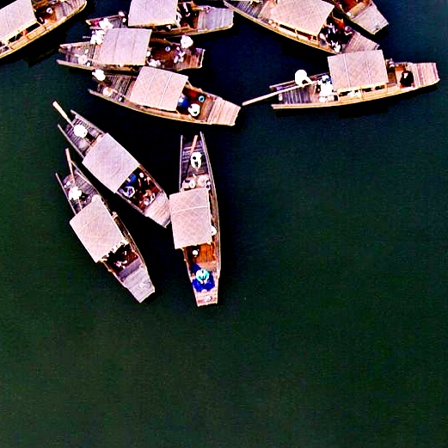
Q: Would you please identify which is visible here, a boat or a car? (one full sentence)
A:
I can see a boat in this picture.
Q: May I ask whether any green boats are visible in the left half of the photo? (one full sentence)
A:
No, looking in the left half of the photo, there is no green boat.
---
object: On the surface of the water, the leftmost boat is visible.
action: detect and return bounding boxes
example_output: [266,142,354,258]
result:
[0,0,87,65]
